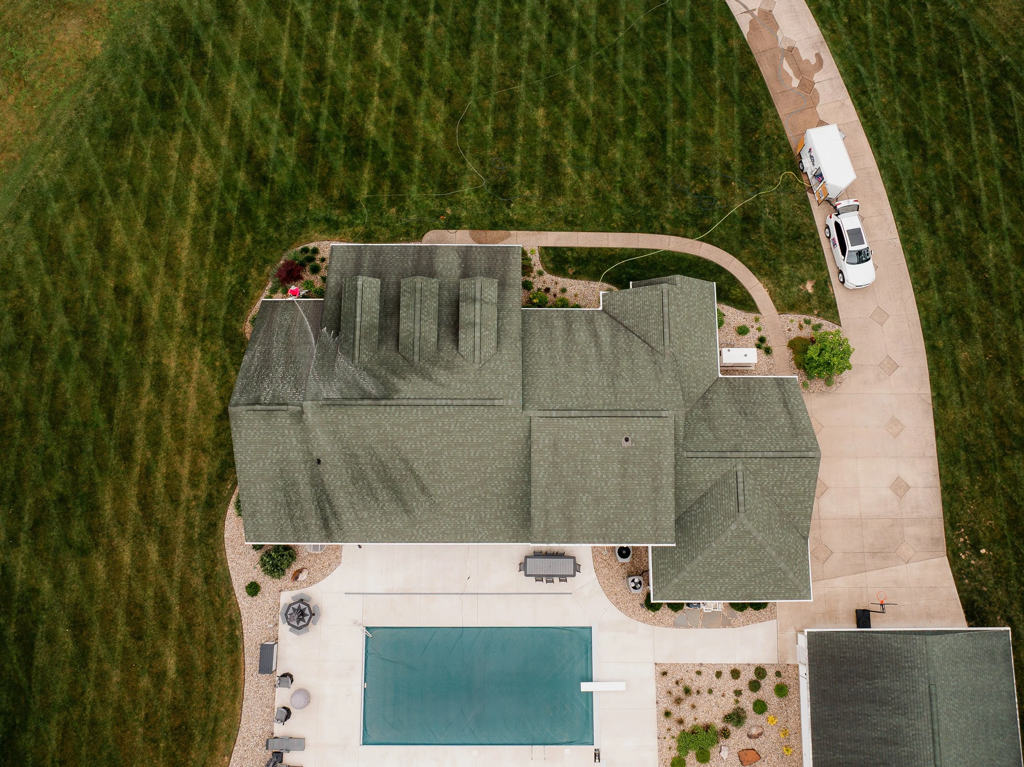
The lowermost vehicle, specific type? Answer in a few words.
automobile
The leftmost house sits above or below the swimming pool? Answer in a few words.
above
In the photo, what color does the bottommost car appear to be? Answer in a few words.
white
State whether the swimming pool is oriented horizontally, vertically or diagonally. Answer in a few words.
horizontally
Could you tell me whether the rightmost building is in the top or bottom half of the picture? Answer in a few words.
bottom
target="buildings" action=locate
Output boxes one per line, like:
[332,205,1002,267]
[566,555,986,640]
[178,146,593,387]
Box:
[794,627,1024,767]
[229,242,822,604]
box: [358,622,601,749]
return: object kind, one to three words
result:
swimming pool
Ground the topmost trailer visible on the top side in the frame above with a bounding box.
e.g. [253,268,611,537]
[795,122,857,216]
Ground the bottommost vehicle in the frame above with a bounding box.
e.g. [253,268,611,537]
[823,198,874,289]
